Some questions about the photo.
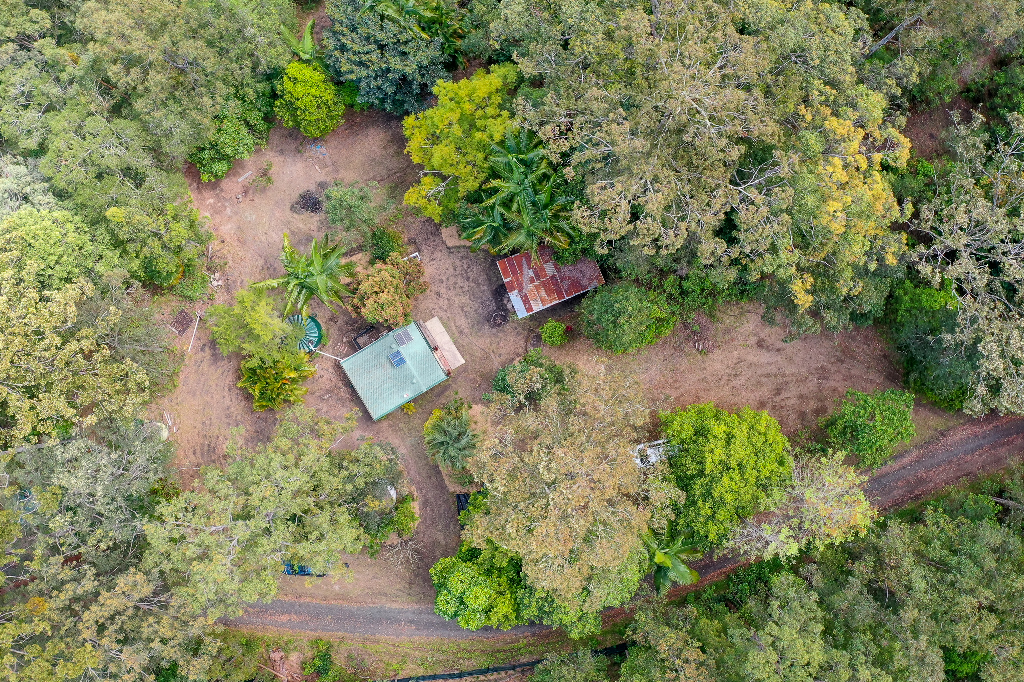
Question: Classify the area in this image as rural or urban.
rural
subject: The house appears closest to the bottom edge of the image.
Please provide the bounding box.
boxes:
[340,322,448,423]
